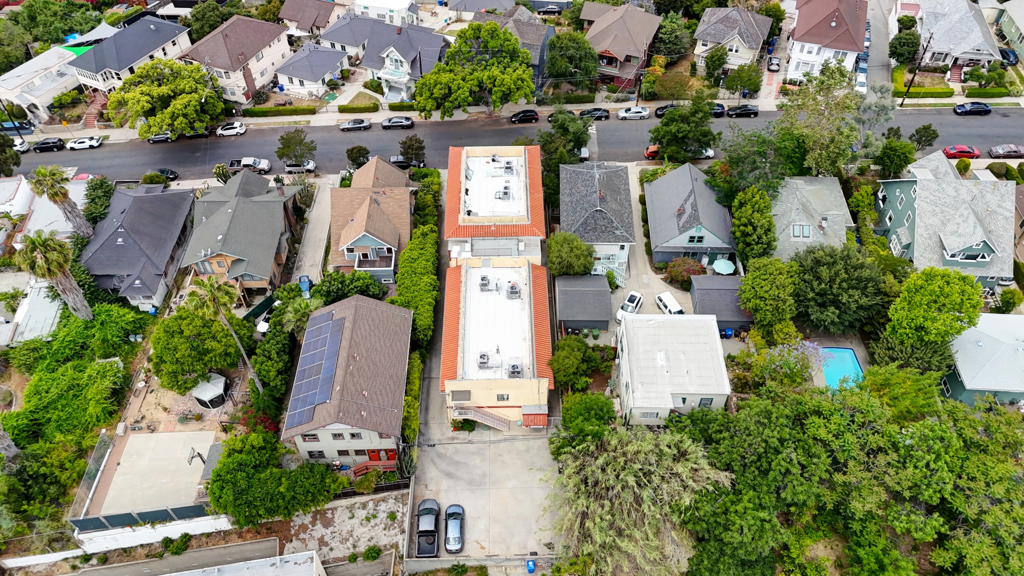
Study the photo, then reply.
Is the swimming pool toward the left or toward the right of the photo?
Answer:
right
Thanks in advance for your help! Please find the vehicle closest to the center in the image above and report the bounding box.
[615,287,642,322]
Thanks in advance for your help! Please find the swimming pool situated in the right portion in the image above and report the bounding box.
[819,345,866,396]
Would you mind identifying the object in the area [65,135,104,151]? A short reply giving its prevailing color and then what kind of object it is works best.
white car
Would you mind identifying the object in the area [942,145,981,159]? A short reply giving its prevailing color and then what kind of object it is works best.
red car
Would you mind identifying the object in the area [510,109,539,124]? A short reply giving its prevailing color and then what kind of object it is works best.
black car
